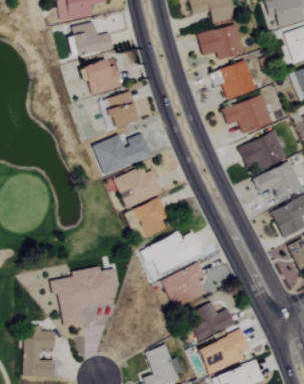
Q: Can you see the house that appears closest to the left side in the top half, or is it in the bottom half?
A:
bottom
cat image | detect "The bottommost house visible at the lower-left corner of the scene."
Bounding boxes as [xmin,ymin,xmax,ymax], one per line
[24,330,56,376]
